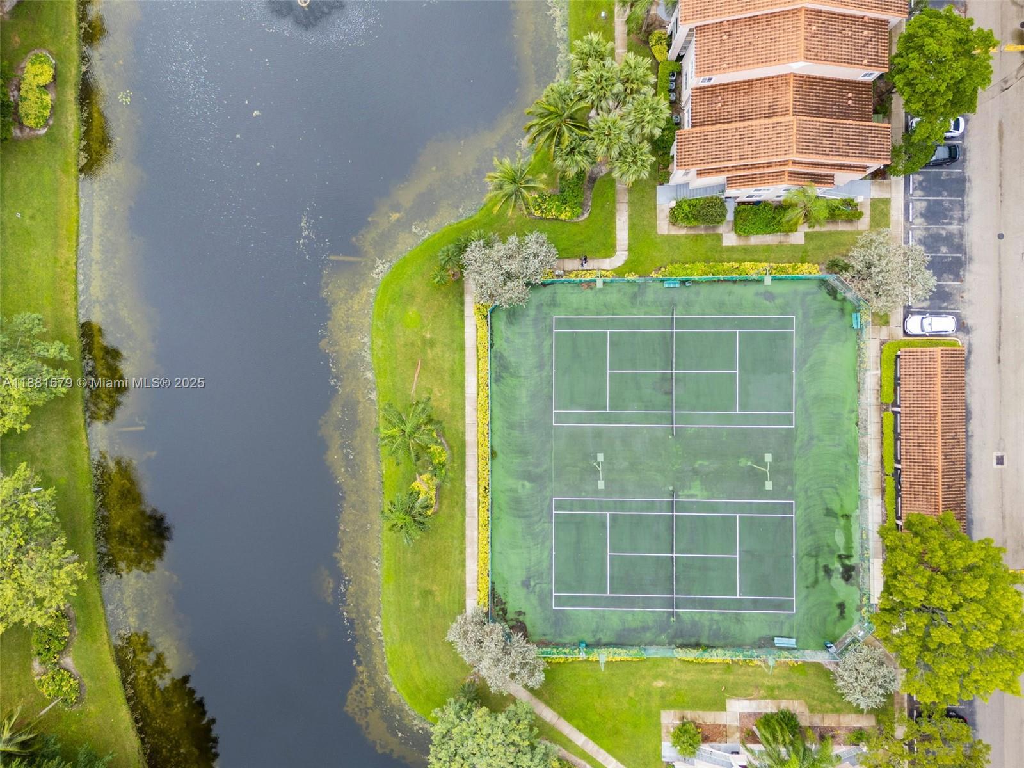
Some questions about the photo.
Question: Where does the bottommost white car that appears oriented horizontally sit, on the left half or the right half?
right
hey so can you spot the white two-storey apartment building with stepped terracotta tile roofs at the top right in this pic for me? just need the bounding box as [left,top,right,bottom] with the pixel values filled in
[669,0,909,206]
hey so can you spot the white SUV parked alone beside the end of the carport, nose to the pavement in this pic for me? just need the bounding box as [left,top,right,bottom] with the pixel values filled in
[903,312,962,337]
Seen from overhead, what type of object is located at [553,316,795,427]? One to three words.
tennis court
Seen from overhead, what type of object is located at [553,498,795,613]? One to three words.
tennis court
